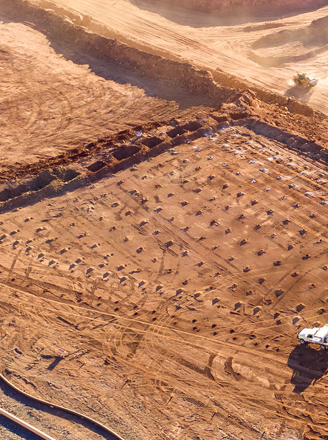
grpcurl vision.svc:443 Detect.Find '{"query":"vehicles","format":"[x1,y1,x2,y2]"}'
[293,70,320,89]
[292,320,328,350]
